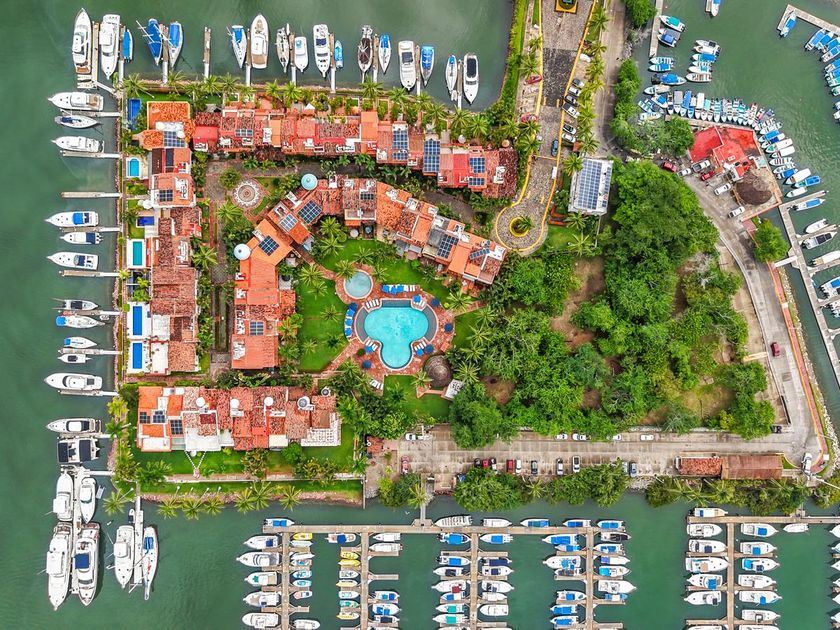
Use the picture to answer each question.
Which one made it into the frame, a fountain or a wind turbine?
fountain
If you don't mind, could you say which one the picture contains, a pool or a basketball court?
pool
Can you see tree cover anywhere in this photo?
Yes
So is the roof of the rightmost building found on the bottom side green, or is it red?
red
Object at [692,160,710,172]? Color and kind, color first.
white vehicle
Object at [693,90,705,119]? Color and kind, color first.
white boat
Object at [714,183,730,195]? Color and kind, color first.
white vehicle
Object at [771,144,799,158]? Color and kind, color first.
white boat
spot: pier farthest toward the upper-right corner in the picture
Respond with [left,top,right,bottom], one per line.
[776,4,840,37]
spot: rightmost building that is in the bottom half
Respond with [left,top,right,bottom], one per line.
[715,452,783,478]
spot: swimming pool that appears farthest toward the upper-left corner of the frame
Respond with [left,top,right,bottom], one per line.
[127,98,141,130]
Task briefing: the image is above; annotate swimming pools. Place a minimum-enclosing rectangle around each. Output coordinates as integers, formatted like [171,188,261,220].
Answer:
[132,343,142,368]
[131,241,143,265]
[127,98,141,130]
[128,158,139,177]
[137,216,154,227]
[344,270,373,299]
[354,299,439,372]
[132,306,142,336]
